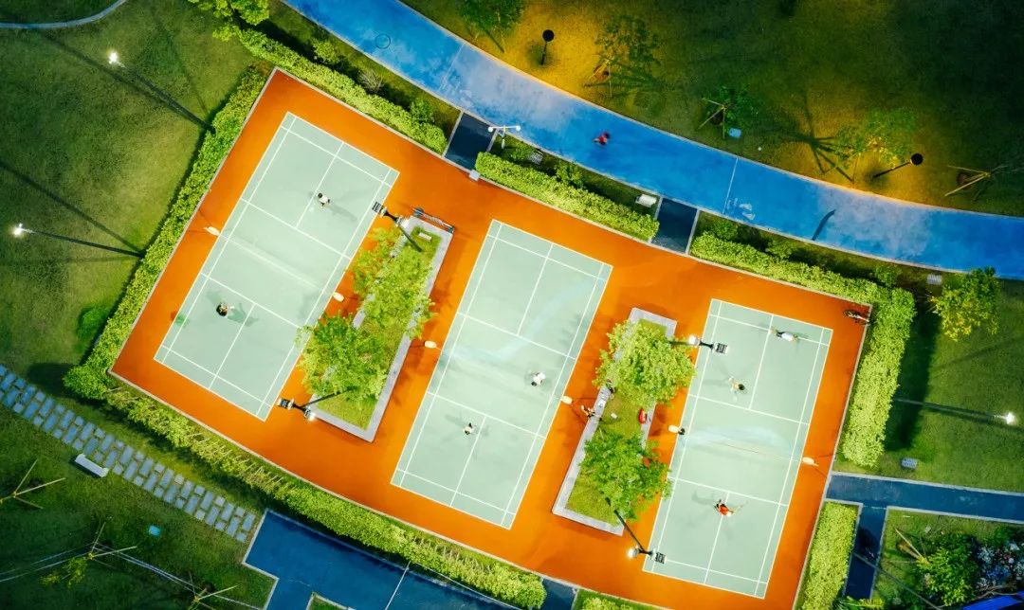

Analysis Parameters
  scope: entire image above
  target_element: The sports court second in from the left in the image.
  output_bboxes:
[392,221,611,528]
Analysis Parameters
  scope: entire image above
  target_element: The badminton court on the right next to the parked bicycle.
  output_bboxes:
[642,299,834,601]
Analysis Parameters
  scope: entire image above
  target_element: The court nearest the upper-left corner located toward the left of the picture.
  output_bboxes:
[155,113,398,419]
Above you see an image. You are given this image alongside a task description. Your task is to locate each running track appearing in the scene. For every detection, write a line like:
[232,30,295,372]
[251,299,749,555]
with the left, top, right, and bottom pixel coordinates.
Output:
[282,0,1024,282]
